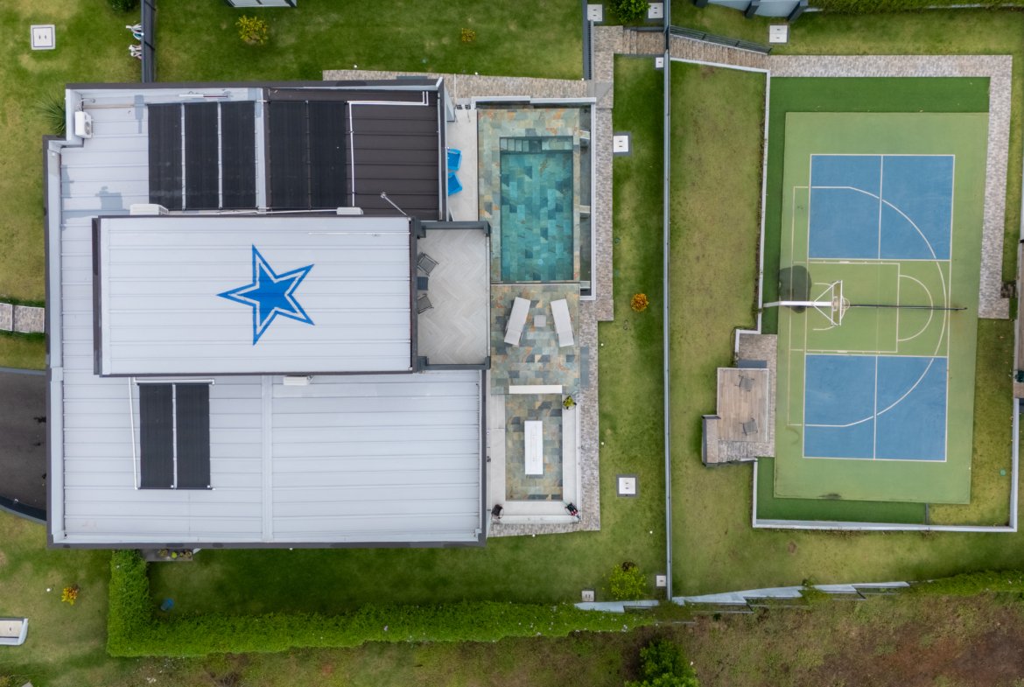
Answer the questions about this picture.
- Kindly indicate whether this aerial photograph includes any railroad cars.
No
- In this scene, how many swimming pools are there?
1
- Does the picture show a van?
No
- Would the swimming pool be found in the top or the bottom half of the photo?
top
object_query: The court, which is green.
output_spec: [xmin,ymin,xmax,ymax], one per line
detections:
[774,112,989,504]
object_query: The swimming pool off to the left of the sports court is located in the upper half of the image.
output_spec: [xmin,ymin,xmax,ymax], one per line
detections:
[471,97,595,302]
